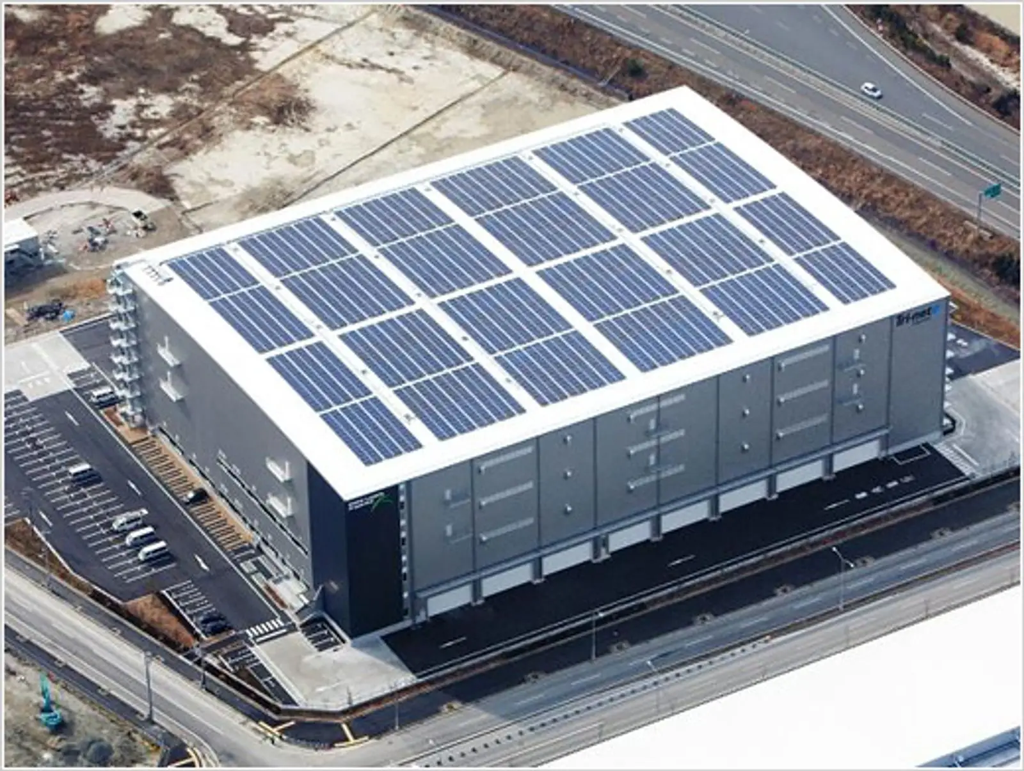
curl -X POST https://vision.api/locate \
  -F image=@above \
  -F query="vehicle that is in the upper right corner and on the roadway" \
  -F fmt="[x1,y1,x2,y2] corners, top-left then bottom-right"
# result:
[859,84,883,98]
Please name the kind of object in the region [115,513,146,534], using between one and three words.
vehicle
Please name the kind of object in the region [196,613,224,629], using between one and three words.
car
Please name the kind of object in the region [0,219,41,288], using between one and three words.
building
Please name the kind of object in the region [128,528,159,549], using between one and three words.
vehicle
